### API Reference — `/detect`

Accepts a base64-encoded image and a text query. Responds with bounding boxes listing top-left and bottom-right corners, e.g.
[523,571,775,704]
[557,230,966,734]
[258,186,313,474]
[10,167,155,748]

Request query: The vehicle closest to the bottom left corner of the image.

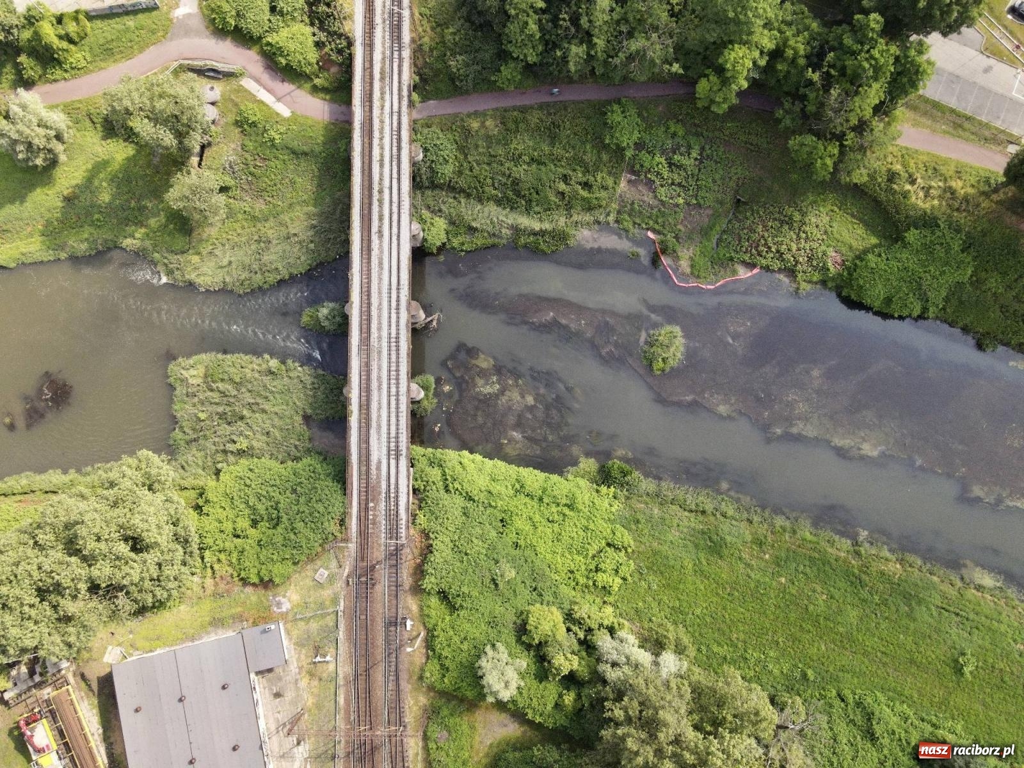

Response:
[15,710,68,768]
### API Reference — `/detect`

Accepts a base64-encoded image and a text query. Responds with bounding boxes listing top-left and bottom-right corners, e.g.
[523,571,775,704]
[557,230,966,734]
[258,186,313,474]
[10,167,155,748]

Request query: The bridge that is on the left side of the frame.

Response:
[343,0,427,542]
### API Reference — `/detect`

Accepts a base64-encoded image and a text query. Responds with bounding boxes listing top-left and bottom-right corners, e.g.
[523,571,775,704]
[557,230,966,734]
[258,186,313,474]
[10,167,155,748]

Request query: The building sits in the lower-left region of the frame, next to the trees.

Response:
[111,616,293,768]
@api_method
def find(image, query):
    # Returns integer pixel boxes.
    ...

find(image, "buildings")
[111,616,293,768]
[23,0,162,19]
